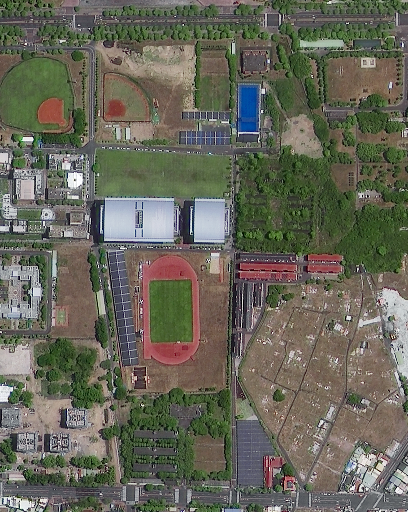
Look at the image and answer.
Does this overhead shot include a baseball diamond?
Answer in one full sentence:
Yes, there is a baseball diamond in the image.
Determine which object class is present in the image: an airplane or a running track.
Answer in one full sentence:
I can see a running track in this picture.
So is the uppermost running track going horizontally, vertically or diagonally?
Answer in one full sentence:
In this picture, the uppermost running track lies vertically.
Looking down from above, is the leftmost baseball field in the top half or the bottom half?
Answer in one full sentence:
Seen from above, the leftmost baseball field lies in the top half of the view.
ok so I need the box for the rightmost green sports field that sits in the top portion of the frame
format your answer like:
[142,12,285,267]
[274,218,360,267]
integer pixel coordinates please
[96,150,231,198]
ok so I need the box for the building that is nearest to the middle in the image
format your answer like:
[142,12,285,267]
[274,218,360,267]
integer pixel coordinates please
[190,199,230,243]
